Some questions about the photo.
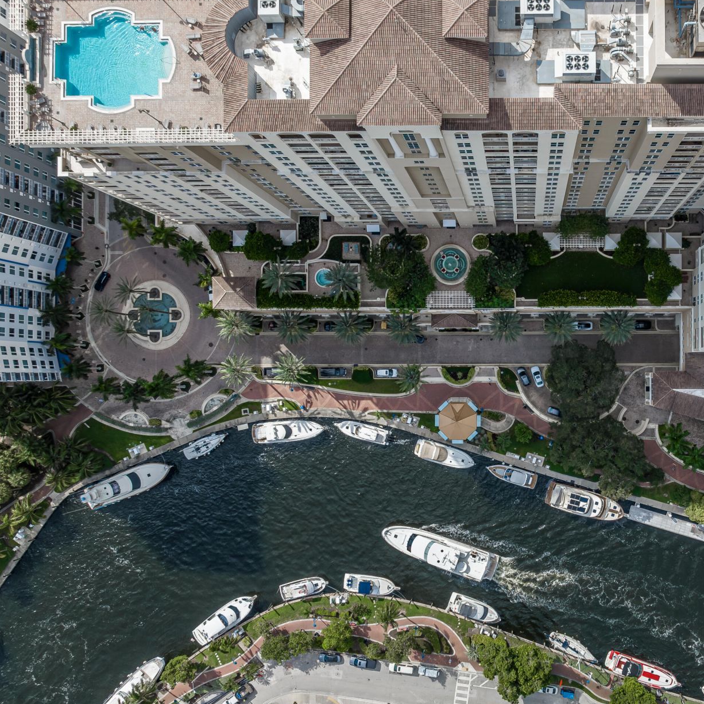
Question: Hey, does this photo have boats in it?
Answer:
Yes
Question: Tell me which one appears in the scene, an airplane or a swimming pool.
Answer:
swimming pool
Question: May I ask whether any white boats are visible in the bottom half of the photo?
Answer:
Yes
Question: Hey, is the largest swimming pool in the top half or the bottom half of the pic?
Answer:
top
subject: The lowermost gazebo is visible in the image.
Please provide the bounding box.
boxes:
[432,396,483,446]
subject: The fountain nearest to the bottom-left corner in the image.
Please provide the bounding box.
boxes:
[118,410,147,424]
